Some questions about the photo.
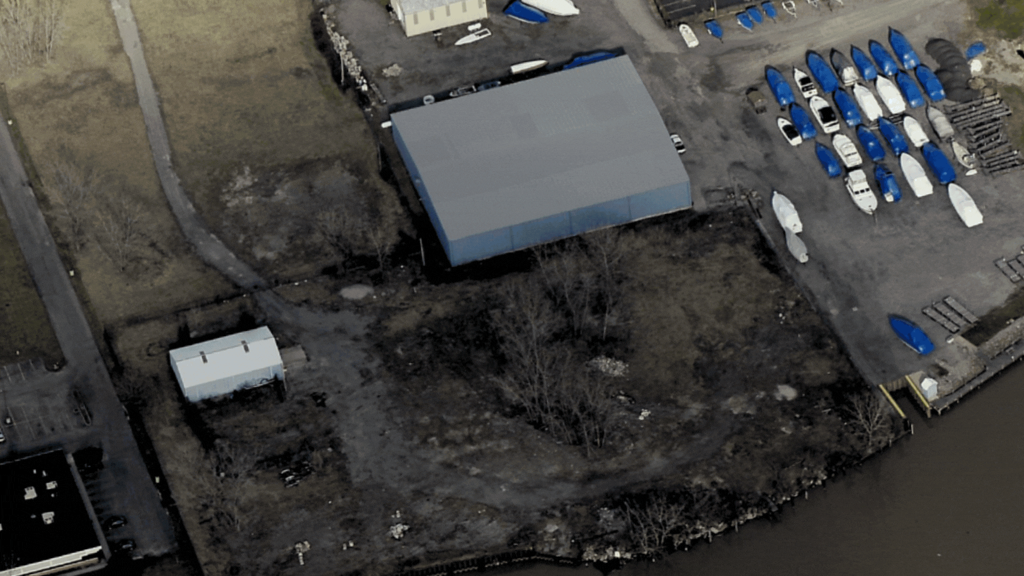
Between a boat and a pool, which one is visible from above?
boat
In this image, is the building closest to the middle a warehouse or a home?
warehouse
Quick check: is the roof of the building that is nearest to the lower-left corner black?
Yes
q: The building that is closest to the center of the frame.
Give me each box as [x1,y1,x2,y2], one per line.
[391,58,693,266]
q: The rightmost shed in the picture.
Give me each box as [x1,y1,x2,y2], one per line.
[918,372,940,400]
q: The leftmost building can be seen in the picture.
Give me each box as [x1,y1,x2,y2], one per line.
[0,451,102,576]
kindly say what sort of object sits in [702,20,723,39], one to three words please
boat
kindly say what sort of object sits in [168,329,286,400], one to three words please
shed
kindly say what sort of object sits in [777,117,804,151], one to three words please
boat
